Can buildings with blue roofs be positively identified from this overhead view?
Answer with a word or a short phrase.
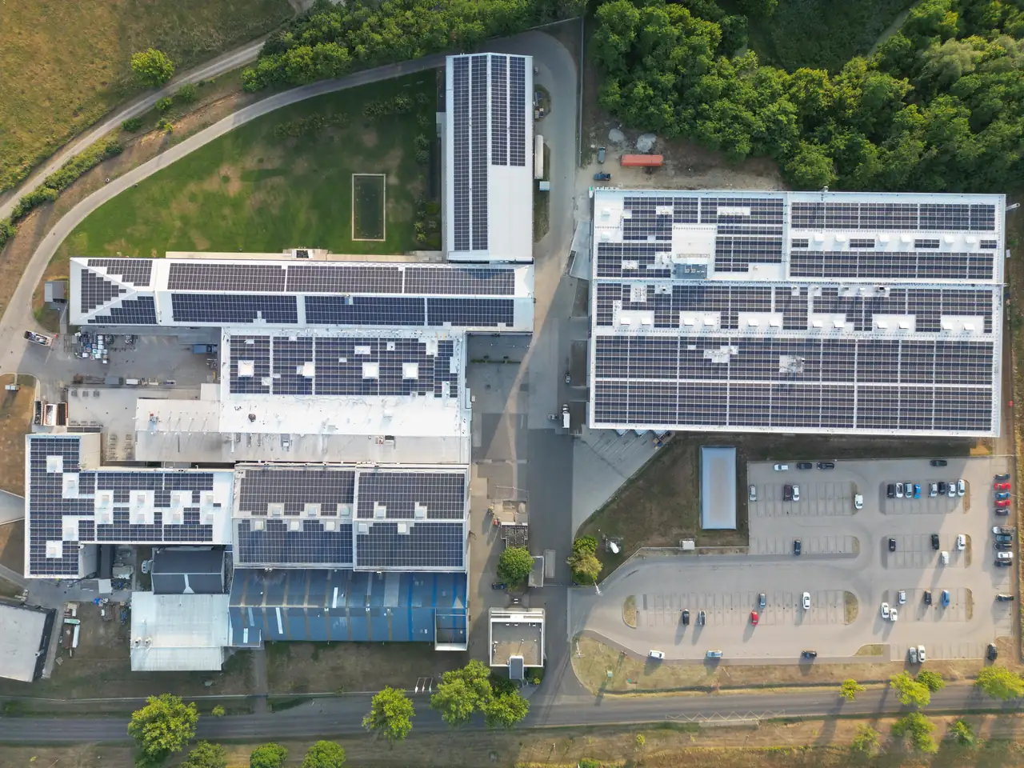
Yes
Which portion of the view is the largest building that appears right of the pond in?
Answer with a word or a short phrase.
right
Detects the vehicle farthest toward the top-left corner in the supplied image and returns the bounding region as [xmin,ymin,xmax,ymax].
[22,330,53,347]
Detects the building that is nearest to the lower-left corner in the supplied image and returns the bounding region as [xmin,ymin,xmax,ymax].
[0,596,56,681]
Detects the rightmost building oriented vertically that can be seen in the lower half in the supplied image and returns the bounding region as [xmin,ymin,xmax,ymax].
[698,447,736,530]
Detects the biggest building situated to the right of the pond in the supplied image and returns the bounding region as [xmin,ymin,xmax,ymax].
[586,188,1007,443]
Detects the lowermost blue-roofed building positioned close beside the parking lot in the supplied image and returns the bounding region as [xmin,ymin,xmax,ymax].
[228,570,470,646]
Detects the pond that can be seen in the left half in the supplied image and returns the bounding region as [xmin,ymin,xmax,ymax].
[352,173,386,241]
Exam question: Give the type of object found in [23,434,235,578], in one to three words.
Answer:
building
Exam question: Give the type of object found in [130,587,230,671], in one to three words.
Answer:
shed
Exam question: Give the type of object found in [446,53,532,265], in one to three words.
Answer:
building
